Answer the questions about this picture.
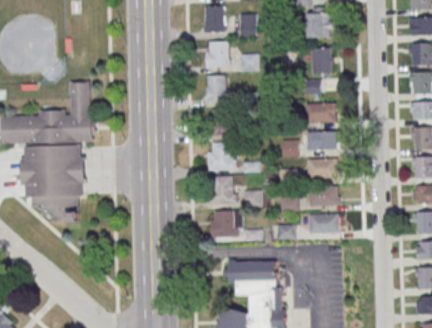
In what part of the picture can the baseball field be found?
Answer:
top left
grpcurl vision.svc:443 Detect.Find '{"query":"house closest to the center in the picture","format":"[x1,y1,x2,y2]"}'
[206,142,237,174]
